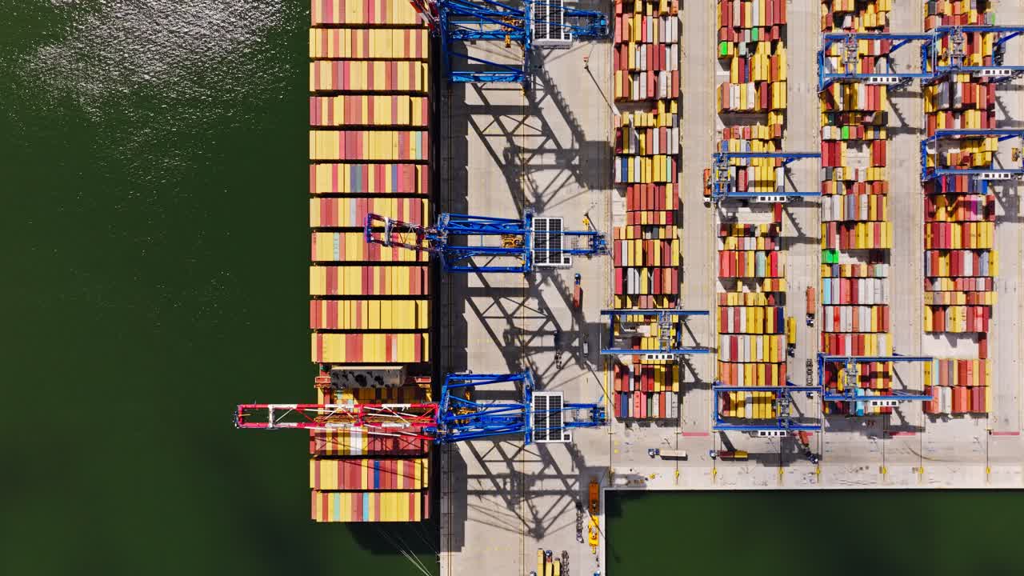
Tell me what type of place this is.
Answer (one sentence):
It's a port.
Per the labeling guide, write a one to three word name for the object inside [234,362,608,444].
container crane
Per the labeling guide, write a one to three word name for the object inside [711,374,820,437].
container crane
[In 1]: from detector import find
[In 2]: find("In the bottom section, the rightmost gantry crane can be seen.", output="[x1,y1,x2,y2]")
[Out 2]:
[818,348,934,409]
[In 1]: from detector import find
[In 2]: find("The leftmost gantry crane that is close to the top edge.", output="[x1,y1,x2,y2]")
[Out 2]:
[407,0,608,100]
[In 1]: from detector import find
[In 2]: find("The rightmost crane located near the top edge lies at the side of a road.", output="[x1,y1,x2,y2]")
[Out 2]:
[921,25,1024,91]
